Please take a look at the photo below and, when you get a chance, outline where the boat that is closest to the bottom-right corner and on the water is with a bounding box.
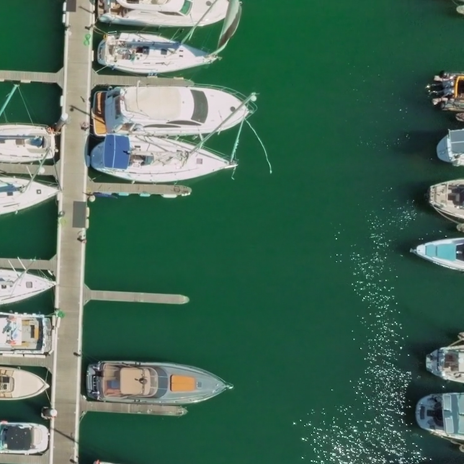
[411,394,464,442]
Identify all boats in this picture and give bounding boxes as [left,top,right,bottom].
[411,394,464,442]
[83,364,240,406]
[91,79,262,137]
[422,181,464,219]
[93,0,233,28]
[0,420,48,455]
[412,241,464,271]
[94,0,247,76]
[431,128,464,165]
[0,85,55,166]
[422,76,464,110]
[87,112,269,185]
[0,310,49,355]
[421,348,464,385]
[0,159,60,215]
[0,264,57,306]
